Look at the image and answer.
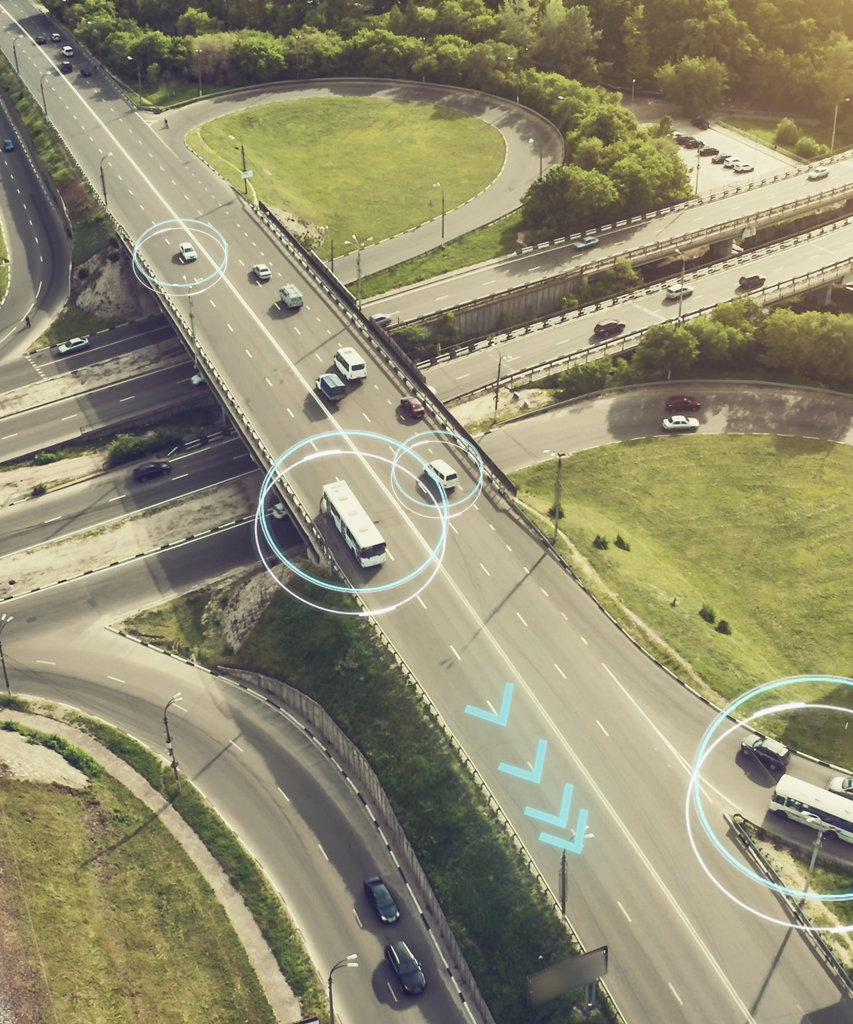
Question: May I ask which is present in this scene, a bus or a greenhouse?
bus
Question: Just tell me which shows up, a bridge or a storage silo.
bridge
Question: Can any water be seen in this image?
No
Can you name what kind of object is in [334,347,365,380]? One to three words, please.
vehicle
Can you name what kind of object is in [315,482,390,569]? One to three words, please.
bus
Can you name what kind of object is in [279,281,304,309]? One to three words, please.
vehicle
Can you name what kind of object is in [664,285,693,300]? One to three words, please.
car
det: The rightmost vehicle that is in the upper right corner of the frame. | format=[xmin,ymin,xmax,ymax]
[806,167,831,180]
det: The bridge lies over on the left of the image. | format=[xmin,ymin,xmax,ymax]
[113,214,515,563]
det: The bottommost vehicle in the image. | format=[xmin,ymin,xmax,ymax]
[385,941,427,1002]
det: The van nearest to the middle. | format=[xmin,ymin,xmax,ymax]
[425,458,459,493]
